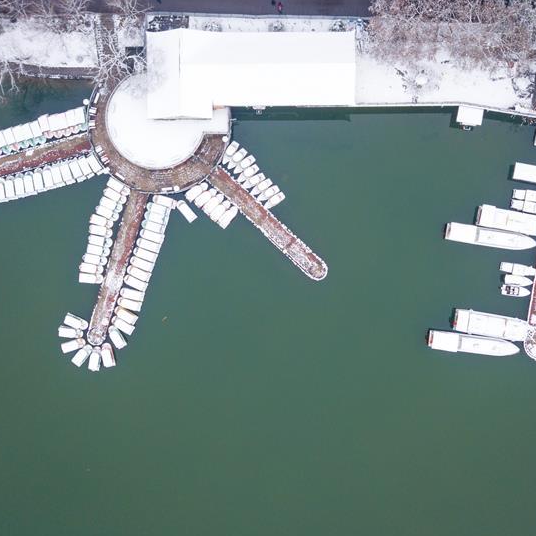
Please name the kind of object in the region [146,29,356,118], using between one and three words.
building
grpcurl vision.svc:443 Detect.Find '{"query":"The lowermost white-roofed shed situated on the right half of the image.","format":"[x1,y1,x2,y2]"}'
[455,104,484,129]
